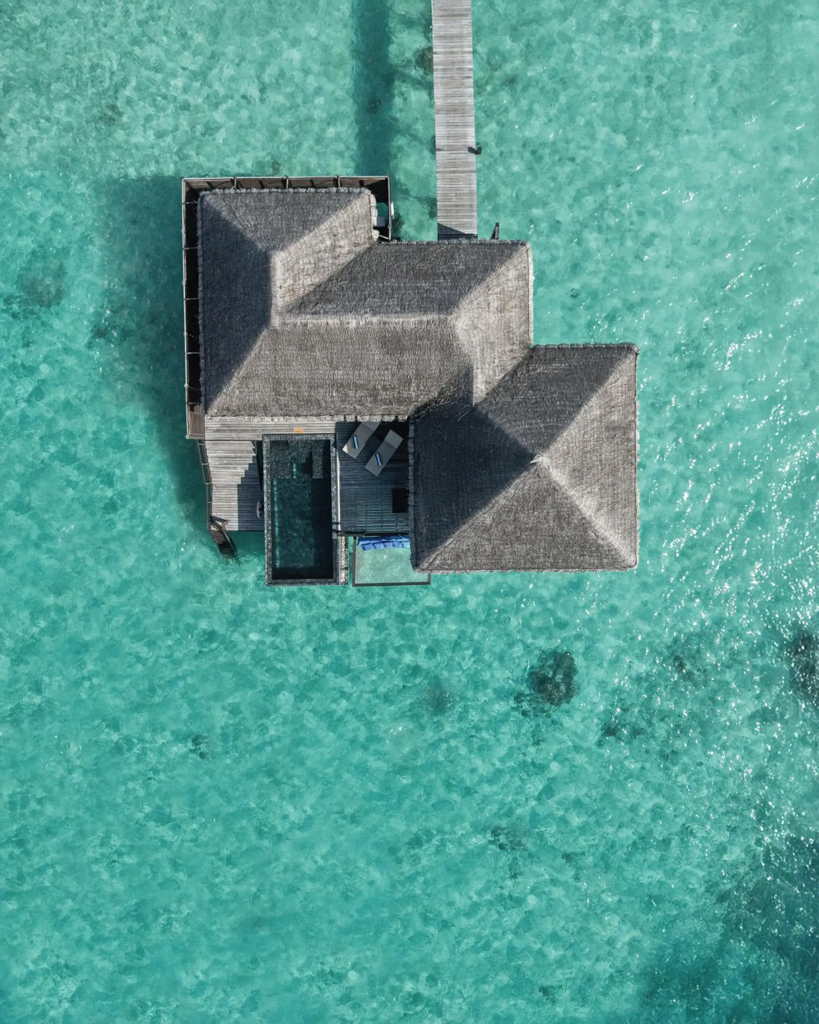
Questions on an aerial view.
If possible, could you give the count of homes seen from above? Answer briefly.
1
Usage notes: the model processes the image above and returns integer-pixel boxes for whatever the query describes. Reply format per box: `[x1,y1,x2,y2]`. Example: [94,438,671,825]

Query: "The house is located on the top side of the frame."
[193,186,642,573]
